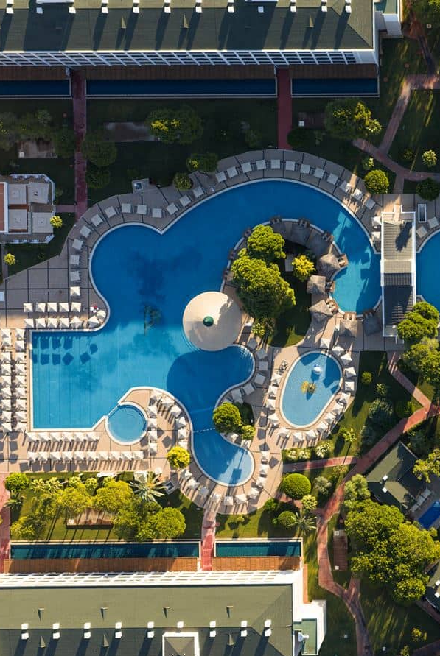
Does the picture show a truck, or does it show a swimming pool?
swimming pool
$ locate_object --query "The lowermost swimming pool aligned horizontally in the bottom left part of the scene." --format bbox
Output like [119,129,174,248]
[9,542,199,559]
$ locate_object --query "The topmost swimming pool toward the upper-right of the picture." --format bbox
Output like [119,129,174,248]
[290,78,379,97]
